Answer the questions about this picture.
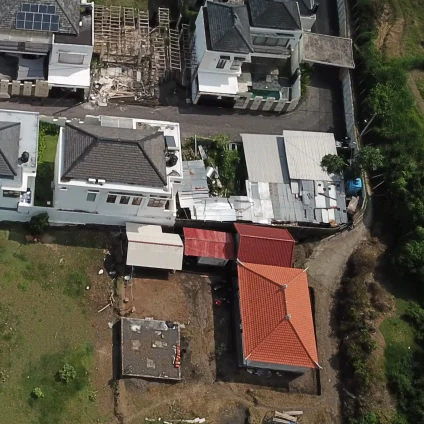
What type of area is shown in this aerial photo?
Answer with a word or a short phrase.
residential area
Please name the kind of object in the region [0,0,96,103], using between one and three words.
house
